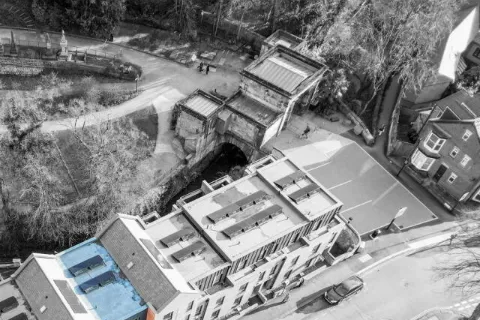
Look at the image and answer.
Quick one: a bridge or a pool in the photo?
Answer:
bridge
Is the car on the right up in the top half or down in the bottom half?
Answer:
bottom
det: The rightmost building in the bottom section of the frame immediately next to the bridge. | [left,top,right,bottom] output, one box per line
[246,150,346,286]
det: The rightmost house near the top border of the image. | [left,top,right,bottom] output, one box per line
[398,2,480,115]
